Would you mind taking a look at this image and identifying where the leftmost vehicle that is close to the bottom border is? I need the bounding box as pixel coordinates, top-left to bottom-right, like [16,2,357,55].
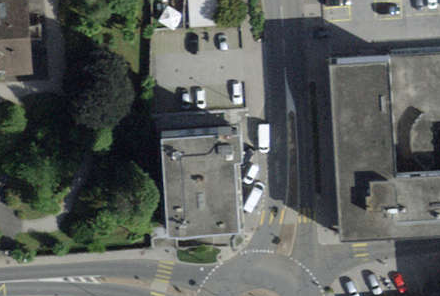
[345,278,359,296]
